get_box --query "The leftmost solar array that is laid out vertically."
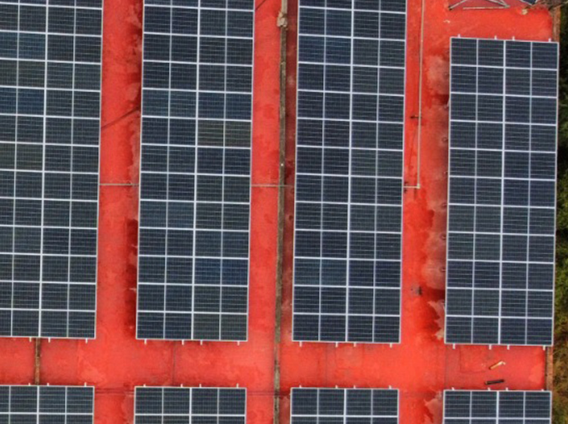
[0,0,103,343]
